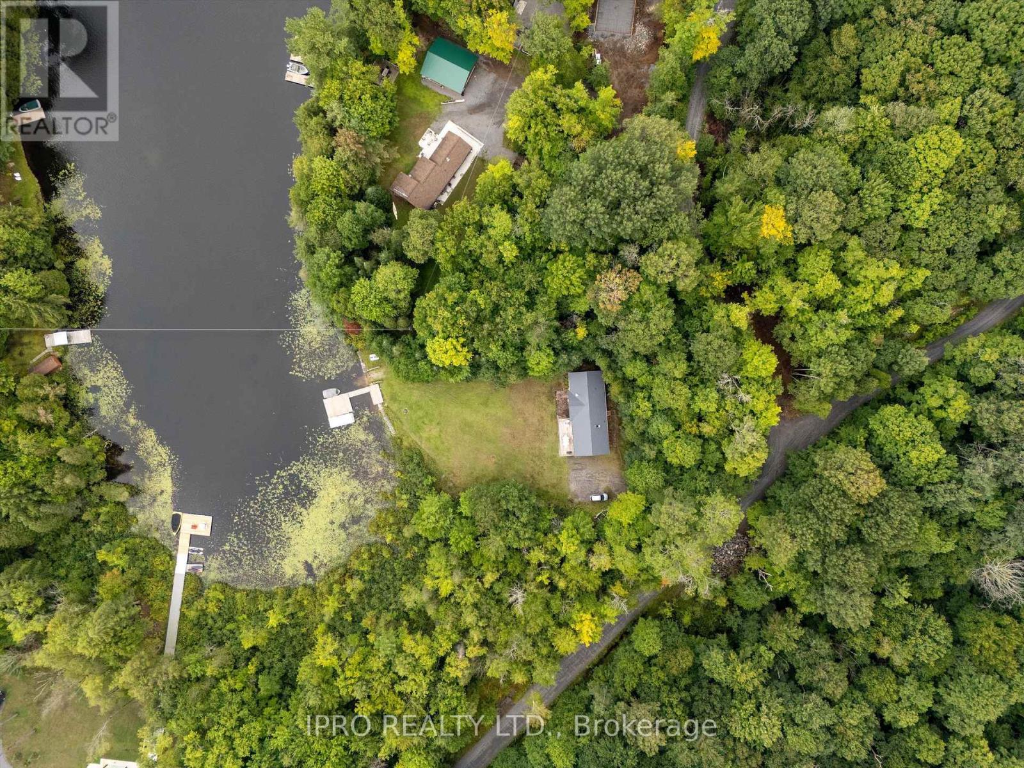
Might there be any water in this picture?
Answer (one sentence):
Yes, water can be seen from above here.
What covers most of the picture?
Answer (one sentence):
The bulk of the photo consists of trees.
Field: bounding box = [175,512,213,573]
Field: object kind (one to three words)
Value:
pier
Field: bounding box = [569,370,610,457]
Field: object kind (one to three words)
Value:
house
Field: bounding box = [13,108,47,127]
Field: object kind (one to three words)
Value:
pier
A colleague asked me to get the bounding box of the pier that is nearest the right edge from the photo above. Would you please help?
[323,383,383,418]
